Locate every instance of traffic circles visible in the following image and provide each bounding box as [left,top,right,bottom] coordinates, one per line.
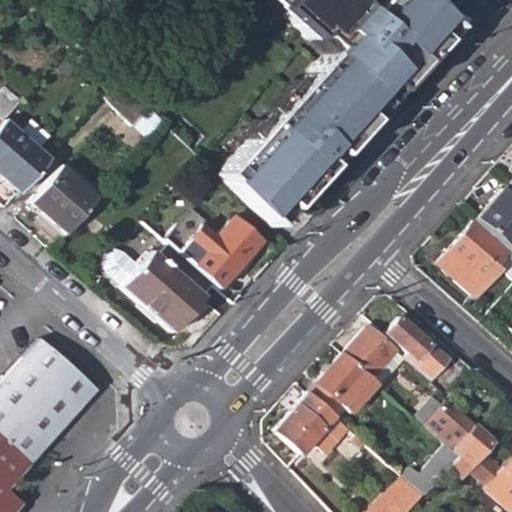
[174,401,211,438]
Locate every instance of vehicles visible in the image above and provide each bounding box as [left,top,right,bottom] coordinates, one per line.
[230,392,248,412]
[14,325,26,348]
[471,50,489,70]
[476,178,498,198]
[362,166,382,187]
[456,65,475,86]
[0,252,12,268]
[46,261,68,281]
[102,312,122,330]
[498,120,512,141]
[415,299,434,316]
[350,208,370,230]
[433,89,450,108]
[80,329,100,346]
[66,279,86,296]
[382,147,400,166]
[446,78,460,95]
[473,352,492,370]
[8,228,30,248]
[62,314,82,331]
[416,106,436,128]
[436,318,457,338]
[452,146,470,165]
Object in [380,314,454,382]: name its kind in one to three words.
house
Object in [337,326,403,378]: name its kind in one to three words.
house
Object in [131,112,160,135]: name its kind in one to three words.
shed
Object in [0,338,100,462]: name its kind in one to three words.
building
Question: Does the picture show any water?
No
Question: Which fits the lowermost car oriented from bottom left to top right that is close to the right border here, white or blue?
white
